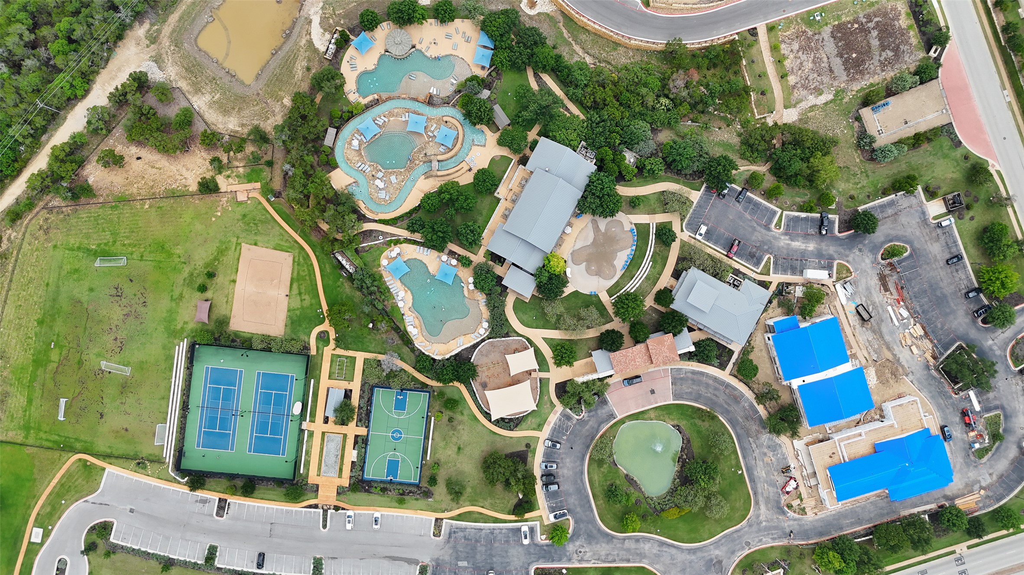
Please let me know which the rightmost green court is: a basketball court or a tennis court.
basketball court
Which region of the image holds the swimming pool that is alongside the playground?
center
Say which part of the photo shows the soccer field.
left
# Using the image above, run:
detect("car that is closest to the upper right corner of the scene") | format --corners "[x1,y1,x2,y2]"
[936,216,954,228]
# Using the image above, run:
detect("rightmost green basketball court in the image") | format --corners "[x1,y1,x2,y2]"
[363,386,431,485]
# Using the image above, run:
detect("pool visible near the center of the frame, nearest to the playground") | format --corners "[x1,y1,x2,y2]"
[398,257,484,346]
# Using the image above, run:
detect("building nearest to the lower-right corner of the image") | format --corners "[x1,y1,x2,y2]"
[804,396,954,509]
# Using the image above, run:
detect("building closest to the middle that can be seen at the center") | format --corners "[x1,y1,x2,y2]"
[502,265,535,298]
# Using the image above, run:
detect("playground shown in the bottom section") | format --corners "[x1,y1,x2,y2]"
[470,336,541,419]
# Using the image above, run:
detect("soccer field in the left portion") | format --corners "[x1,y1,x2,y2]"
[24,229,189,461]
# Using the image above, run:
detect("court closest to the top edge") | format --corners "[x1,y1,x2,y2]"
[229,243,294,337]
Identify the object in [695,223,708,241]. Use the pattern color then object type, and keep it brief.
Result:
white vehicle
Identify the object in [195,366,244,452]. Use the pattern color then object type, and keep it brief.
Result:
blue tennis court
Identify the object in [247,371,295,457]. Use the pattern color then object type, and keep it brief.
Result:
blue tennis court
